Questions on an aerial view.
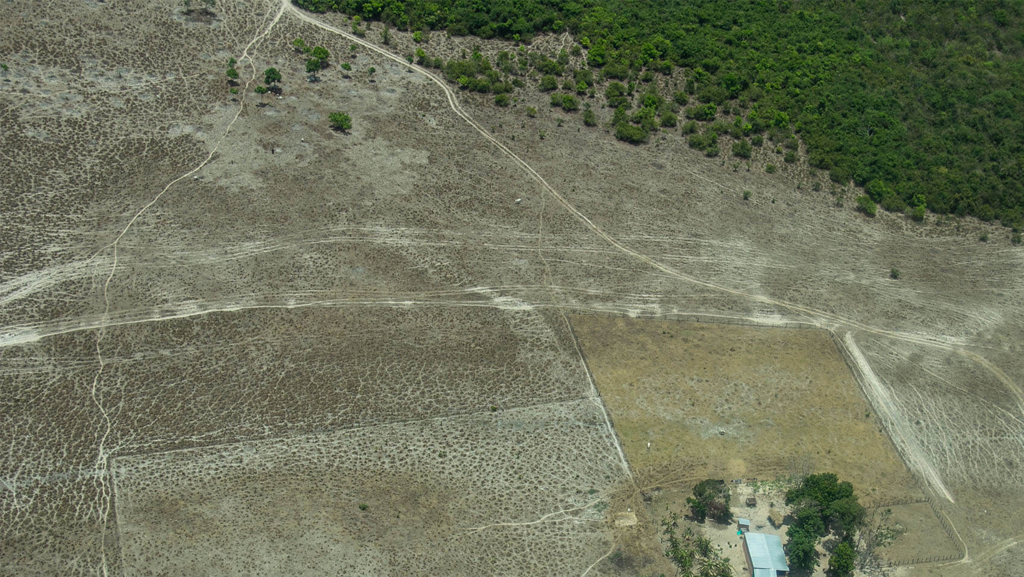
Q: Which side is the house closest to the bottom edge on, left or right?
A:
right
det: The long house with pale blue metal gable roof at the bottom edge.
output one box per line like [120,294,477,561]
[743,529,788,577]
